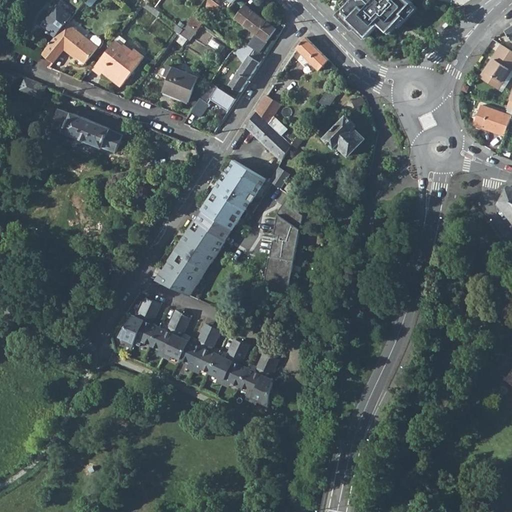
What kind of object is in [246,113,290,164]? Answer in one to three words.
shed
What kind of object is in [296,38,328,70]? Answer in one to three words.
house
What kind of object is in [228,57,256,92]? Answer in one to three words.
shed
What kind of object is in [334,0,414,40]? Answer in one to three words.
building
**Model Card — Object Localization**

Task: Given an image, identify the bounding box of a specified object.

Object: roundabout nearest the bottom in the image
[412,124,466,174]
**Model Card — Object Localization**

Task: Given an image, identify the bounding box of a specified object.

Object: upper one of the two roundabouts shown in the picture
[391,66,453,119]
